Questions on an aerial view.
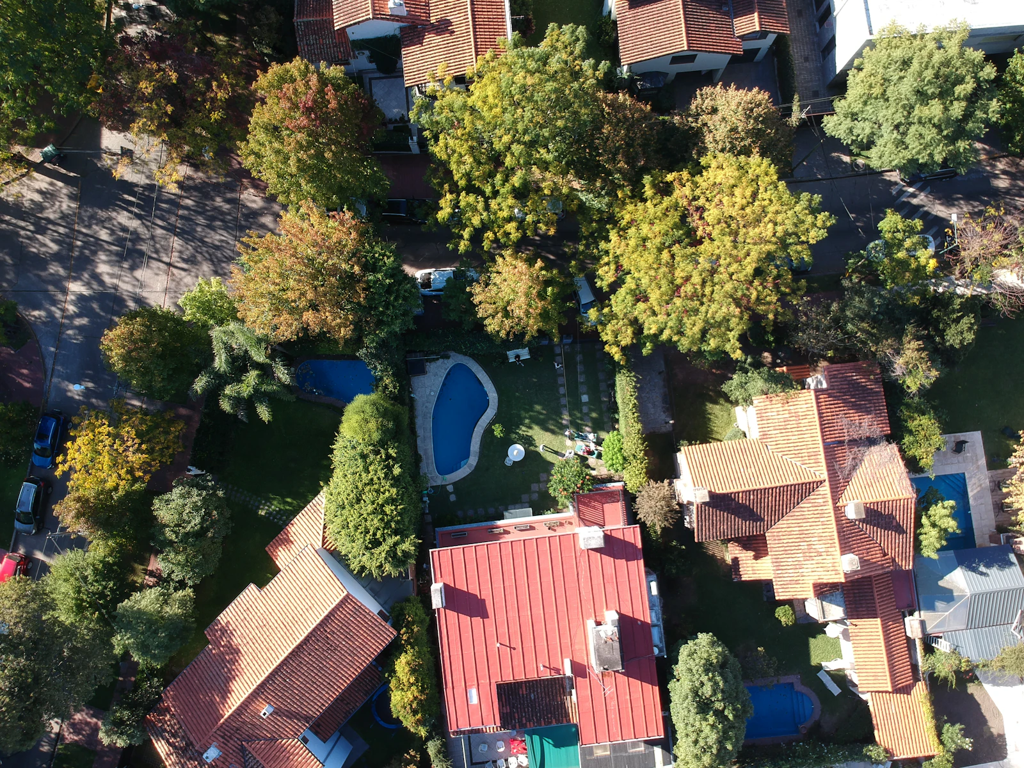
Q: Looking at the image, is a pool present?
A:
Yes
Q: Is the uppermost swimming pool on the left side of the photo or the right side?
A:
left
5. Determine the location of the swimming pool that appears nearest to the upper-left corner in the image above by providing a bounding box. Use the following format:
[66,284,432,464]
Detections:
[288,352,384,409]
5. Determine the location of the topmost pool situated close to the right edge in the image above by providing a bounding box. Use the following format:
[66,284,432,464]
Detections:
[900,431,994,545]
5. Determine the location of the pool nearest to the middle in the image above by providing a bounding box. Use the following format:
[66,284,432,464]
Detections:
[415,352,498,484]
